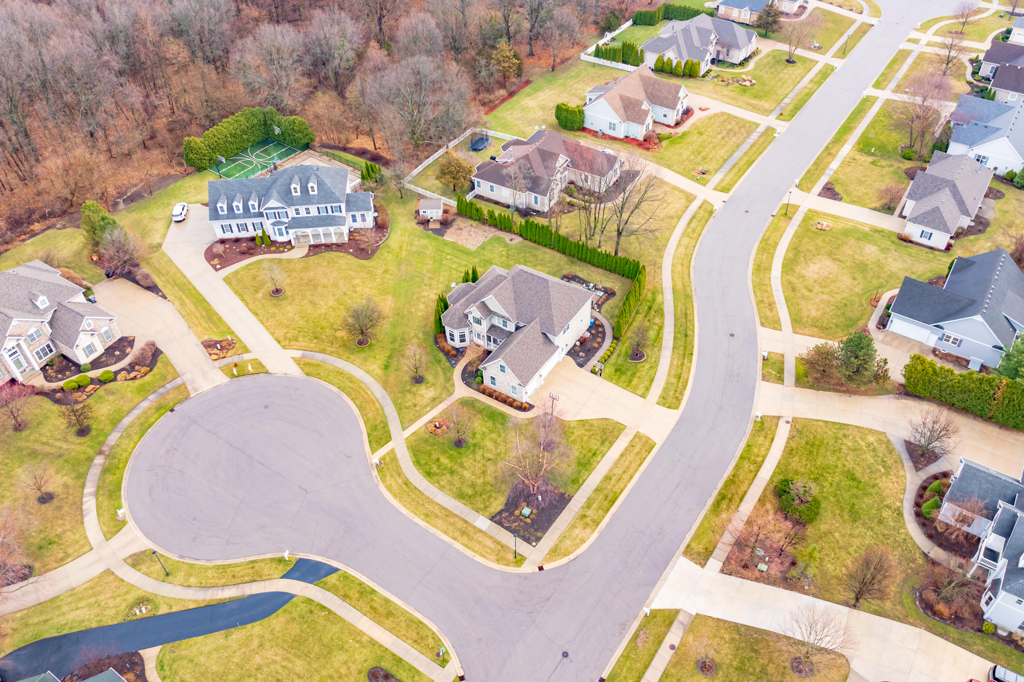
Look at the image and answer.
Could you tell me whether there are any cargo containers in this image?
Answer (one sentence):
No, no cargo container is visible in the view.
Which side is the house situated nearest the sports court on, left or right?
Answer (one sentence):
It is on the left.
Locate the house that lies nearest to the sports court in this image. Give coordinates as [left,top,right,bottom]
[209,165,373,250]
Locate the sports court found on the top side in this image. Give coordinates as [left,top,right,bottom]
[209,140,302,180]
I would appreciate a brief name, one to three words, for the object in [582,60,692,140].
house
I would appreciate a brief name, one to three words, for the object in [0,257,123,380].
house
